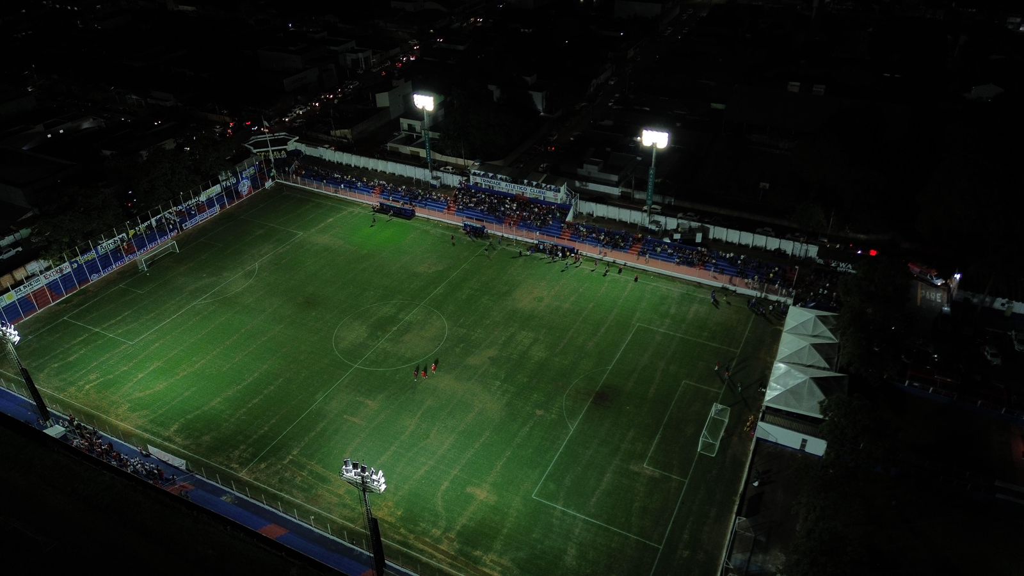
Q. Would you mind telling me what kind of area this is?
sports ground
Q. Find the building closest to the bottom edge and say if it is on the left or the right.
right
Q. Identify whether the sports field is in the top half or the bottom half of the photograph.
bottom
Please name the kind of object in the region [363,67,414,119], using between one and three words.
house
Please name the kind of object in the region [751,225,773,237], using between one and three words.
vehicle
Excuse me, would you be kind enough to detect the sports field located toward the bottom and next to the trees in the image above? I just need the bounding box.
[0,180,797,576]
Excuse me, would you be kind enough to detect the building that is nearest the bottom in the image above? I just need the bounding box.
[757,405,832,459]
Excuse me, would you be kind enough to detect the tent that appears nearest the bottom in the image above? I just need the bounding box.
[766,361,845,439]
